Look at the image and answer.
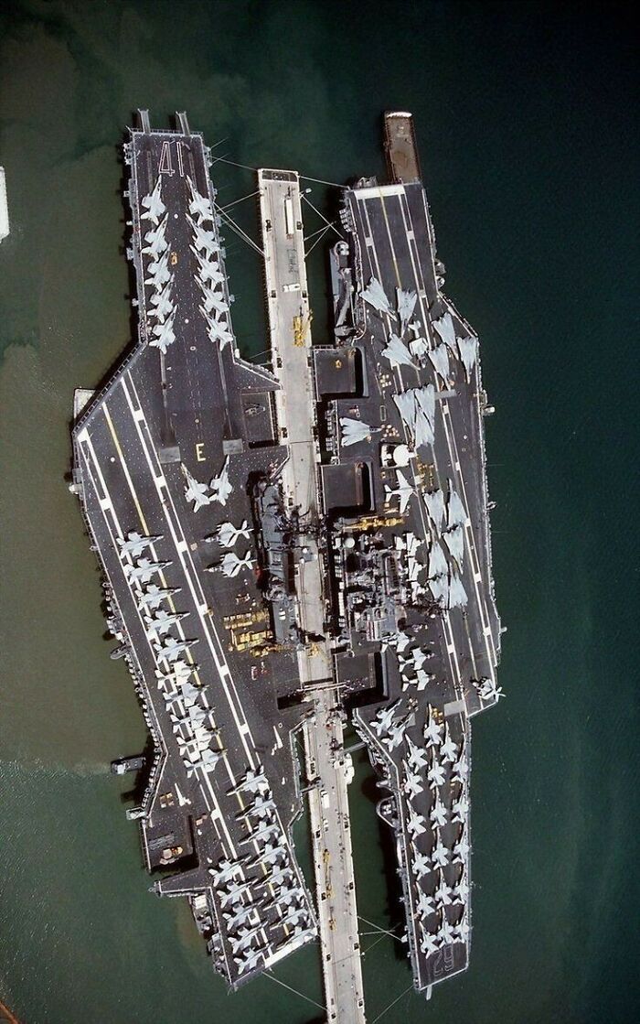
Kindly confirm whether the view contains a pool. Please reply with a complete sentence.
No, the picture doesn't show any pool.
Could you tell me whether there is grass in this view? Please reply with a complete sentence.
No, no grass is visible.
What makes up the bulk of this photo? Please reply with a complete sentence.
What you mostly see from above here is water.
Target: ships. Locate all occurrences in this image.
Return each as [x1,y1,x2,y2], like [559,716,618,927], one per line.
[68,107,324,994]
[313,175,507,998]
[0,167,12,240]
[73,388,98,424]
[384,111,423,187]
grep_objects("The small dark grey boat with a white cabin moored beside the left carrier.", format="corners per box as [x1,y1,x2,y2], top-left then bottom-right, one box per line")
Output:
[111,755,146,774]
